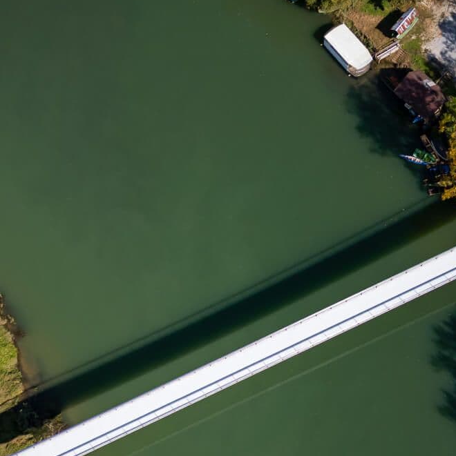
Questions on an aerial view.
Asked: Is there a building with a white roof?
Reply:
No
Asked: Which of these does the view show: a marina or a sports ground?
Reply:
marina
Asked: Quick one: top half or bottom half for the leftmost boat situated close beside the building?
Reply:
top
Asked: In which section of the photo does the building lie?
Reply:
top right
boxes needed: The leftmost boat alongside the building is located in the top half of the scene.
[323,22,372,80]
